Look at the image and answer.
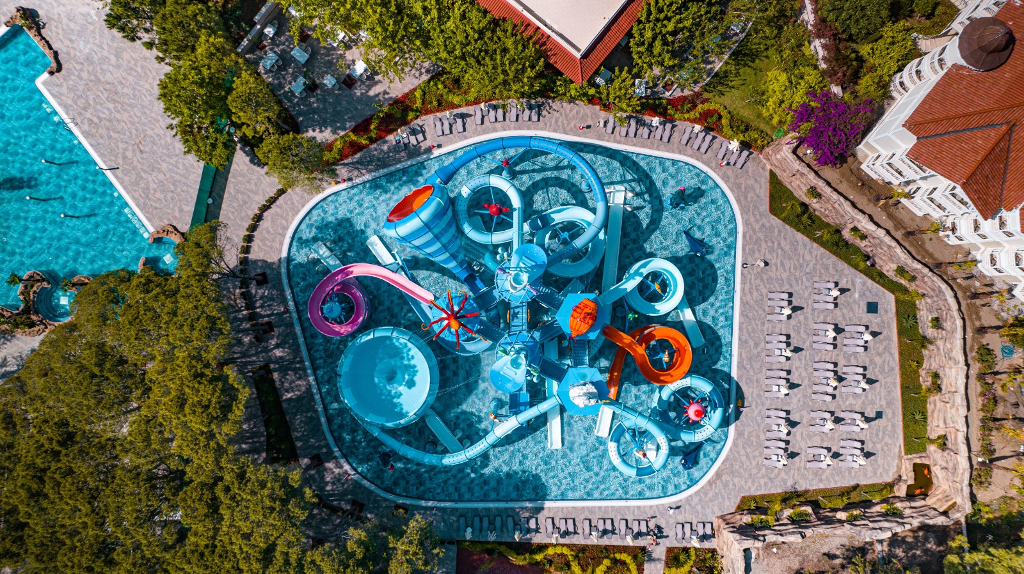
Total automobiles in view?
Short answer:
0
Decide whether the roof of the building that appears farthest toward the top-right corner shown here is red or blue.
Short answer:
red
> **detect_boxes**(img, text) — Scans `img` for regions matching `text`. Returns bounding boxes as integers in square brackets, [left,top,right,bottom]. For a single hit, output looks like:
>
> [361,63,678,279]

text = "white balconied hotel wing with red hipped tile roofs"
[860,0,1024,298]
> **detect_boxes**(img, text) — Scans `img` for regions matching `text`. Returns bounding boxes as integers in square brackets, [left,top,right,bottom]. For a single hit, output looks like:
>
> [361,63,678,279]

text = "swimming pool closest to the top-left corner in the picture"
[0,24,182,321]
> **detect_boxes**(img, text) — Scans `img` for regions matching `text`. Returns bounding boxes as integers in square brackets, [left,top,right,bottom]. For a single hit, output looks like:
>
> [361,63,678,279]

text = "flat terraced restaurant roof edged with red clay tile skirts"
[477,0,642,86]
